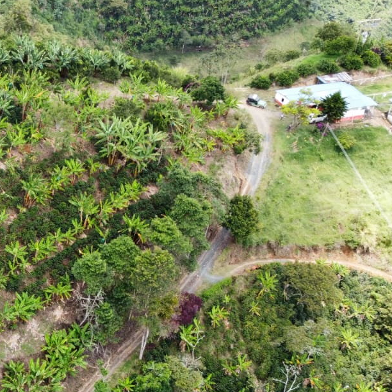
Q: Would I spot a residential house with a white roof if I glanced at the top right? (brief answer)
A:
Yes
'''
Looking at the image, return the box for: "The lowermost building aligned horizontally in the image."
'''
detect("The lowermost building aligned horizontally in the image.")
[275,80,378,123]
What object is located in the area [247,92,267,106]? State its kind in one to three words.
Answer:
car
